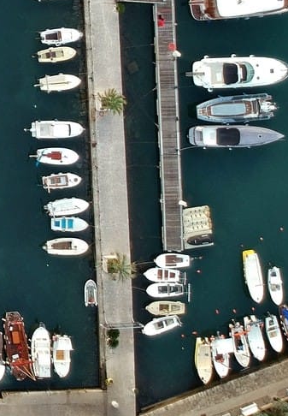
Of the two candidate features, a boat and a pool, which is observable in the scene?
boat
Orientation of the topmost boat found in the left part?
from side to side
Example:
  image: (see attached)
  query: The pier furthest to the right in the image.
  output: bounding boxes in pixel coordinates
[182,205,214,250]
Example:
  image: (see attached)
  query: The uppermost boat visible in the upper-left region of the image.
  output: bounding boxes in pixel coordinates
[37,27,82,47]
